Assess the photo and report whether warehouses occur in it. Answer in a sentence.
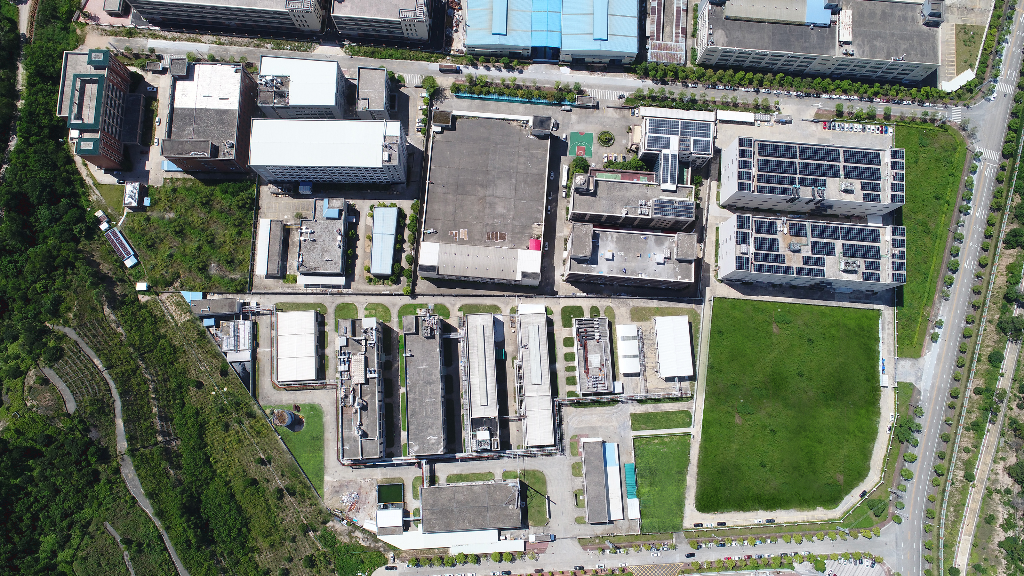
Yes, there is a warehouse in the image.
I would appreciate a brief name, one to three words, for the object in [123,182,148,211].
building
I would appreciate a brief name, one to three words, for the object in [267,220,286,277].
shed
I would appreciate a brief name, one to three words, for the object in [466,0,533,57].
building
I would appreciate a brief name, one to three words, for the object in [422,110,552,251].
warehouse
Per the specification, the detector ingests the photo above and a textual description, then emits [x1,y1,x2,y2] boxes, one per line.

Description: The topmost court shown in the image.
[569,132,594,157]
